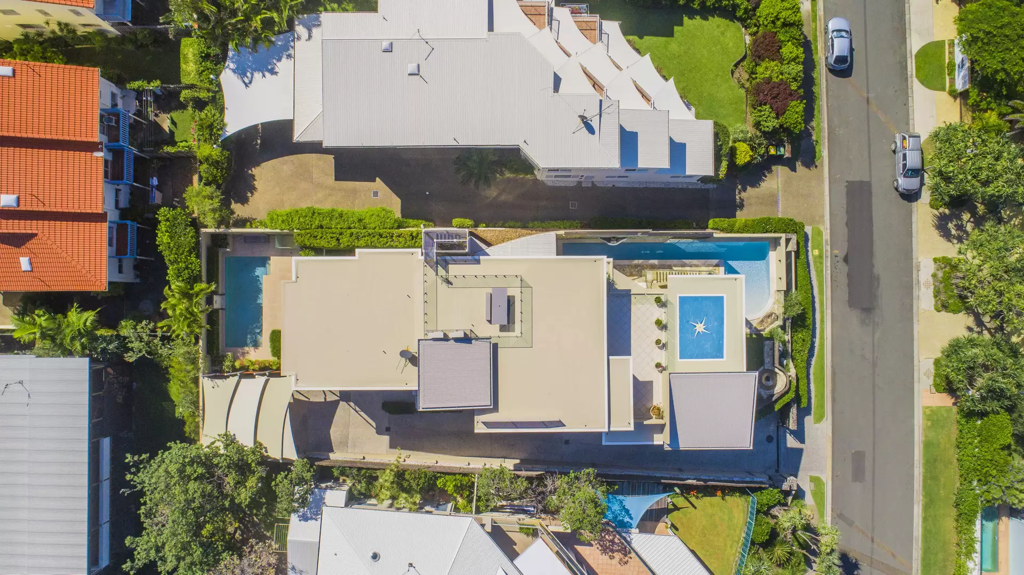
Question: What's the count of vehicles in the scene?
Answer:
two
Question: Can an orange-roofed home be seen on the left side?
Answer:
Yes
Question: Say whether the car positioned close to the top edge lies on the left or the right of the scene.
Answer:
right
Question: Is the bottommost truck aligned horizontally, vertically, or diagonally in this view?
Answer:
vertically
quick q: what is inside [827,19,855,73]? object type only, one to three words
car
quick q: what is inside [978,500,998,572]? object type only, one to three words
swimming pool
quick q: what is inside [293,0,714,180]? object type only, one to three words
house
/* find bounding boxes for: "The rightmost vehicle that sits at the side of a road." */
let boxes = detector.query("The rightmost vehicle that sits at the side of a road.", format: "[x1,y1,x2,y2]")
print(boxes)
[893,129,926,194]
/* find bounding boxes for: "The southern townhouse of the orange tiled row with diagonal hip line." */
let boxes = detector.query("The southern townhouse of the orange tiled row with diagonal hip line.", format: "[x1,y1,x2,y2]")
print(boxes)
[0,213,153,291]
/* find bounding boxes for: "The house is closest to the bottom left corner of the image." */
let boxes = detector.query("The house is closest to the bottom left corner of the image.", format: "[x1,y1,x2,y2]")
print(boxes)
[0,352,126,575]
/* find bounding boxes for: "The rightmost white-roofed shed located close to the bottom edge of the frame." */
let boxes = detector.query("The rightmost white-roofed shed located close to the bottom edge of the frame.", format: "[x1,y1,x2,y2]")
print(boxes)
[621,525,714,575]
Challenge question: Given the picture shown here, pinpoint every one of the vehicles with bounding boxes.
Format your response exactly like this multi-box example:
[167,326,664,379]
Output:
[893,129,926,194]
[827,19,855,73]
